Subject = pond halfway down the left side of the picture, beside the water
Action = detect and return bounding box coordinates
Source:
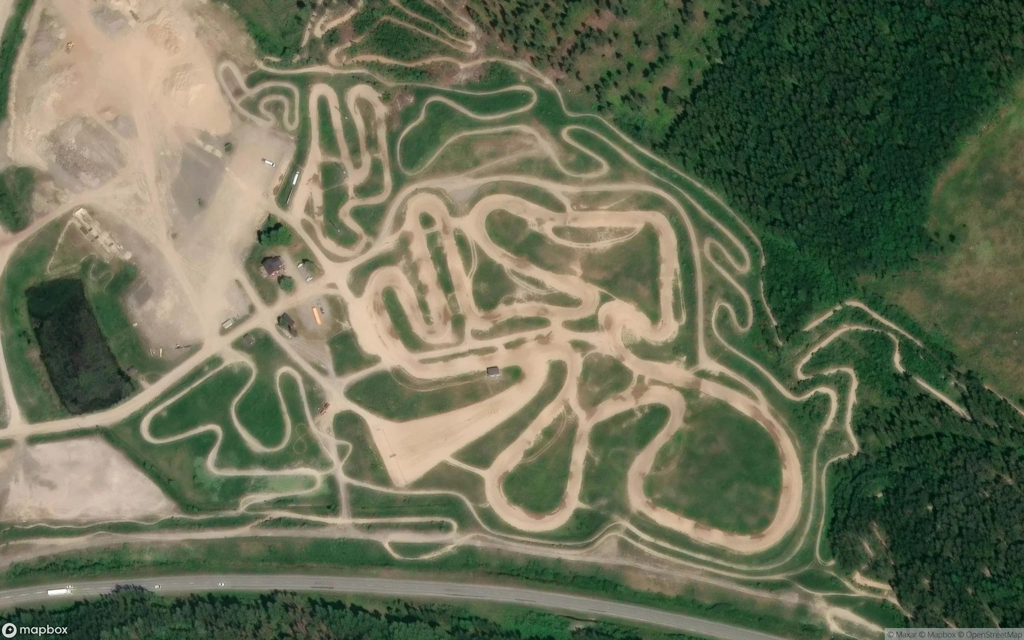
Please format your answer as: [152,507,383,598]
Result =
[24,277,136,416]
